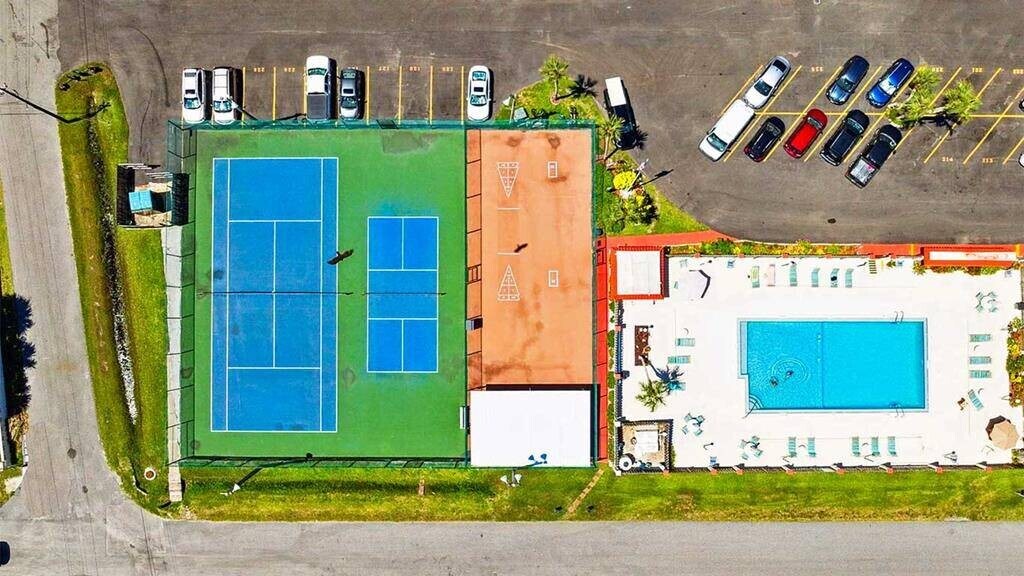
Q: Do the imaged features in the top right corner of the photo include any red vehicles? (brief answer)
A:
Yes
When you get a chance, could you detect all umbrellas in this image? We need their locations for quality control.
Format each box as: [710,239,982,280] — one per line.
[680,270,711,301]
[983,418,1016,447]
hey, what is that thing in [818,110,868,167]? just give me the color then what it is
black car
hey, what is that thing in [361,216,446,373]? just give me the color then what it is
blue sports court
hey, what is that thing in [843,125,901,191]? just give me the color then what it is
black truck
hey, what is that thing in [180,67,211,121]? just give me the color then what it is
white car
